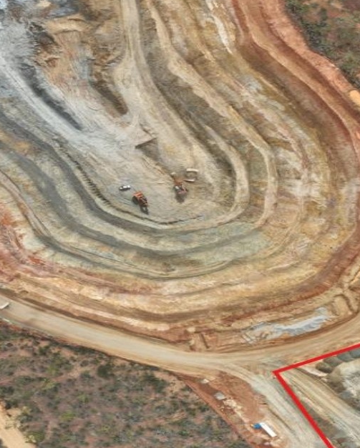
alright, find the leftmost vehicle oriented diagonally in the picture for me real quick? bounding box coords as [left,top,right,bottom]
[133,189,147,209]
